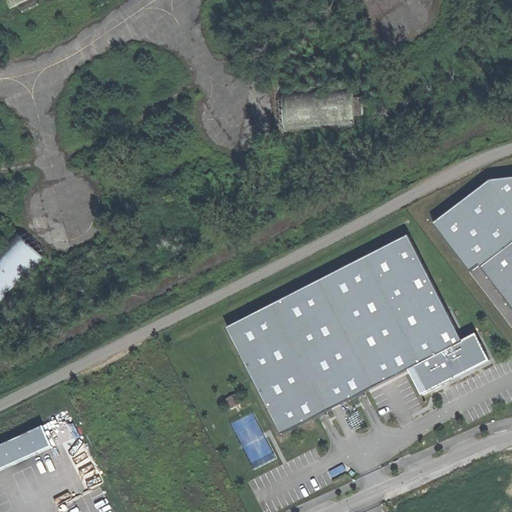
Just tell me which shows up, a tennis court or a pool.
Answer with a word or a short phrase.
tennis court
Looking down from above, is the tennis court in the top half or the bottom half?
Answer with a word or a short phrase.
bottom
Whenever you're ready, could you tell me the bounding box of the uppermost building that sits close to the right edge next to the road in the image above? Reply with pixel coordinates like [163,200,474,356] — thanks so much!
[432,178,512,328]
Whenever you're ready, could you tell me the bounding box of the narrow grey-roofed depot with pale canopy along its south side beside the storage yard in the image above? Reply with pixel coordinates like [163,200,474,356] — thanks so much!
[0,425,52,474]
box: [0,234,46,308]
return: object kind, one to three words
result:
hangar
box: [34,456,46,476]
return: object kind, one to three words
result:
vehicle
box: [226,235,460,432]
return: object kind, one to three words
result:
building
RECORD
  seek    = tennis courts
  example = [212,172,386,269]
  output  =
[231,412,276,469]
